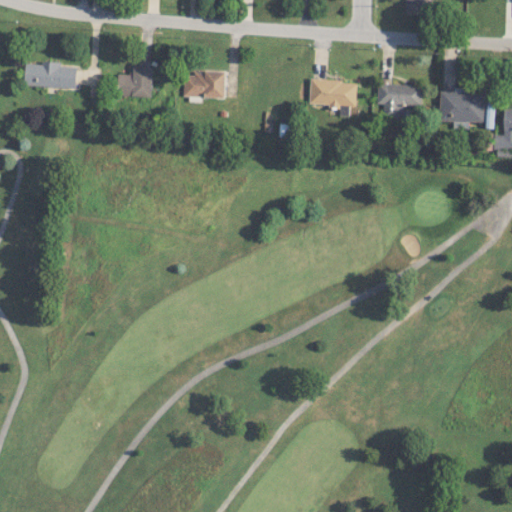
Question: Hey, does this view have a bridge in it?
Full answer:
No, the photo shows no bridge.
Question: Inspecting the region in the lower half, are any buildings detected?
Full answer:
No, the scene shows no building in the lower half.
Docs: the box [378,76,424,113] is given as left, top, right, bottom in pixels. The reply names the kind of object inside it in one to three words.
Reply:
house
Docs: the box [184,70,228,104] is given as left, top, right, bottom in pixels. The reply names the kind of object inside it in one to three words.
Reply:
house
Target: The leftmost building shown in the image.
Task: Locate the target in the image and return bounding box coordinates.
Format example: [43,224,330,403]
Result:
[25,62,80,94]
